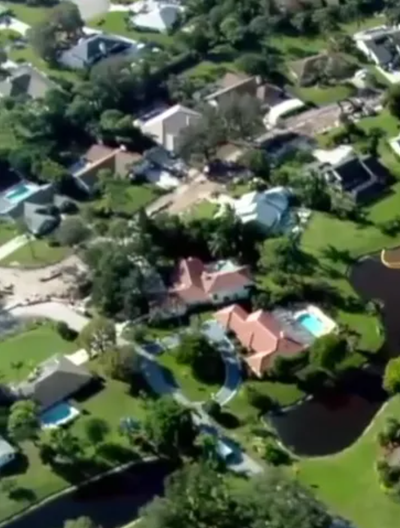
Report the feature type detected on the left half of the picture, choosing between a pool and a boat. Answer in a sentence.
What appears on the left half of the picture is a pool.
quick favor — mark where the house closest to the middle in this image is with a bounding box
[165,258,259,314]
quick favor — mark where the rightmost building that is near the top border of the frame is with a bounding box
[353,23,400,75]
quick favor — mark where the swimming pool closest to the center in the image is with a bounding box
[207,259,238,276]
